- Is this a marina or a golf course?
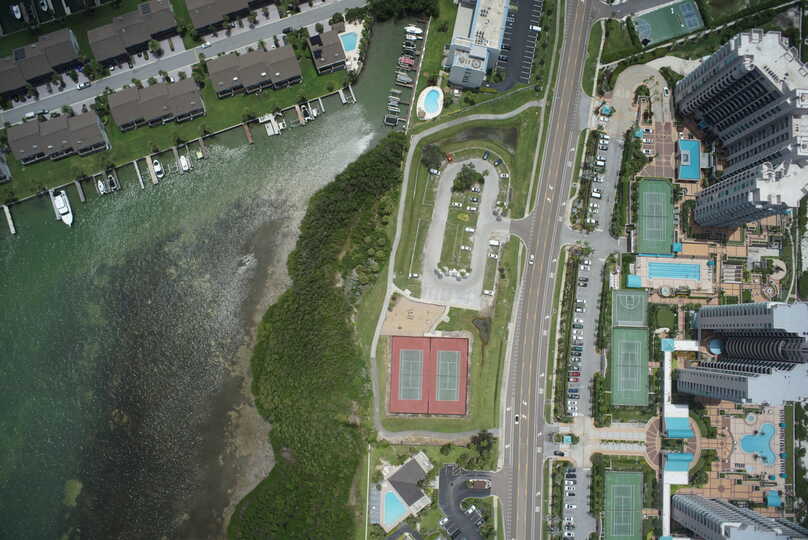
marina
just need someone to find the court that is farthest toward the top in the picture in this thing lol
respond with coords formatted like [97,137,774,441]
[635,0,705,46]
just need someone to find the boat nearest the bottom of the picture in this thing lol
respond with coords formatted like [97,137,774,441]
[52,189,69,225]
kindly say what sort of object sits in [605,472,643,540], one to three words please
tennis court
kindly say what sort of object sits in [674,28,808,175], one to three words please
building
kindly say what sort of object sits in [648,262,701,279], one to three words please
swimming pool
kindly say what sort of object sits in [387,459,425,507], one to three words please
house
